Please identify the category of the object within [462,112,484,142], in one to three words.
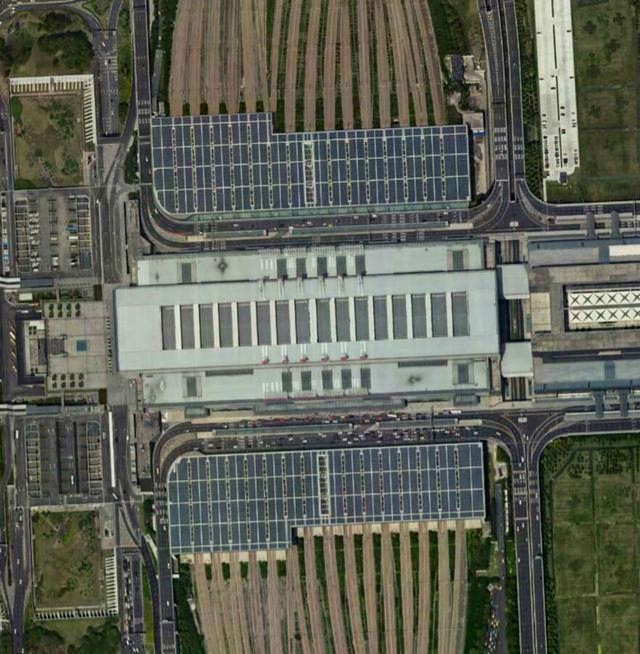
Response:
building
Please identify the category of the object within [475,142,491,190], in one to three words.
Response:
shed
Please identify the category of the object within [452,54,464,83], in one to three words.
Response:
building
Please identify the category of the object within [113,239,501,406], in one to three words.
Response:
train station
